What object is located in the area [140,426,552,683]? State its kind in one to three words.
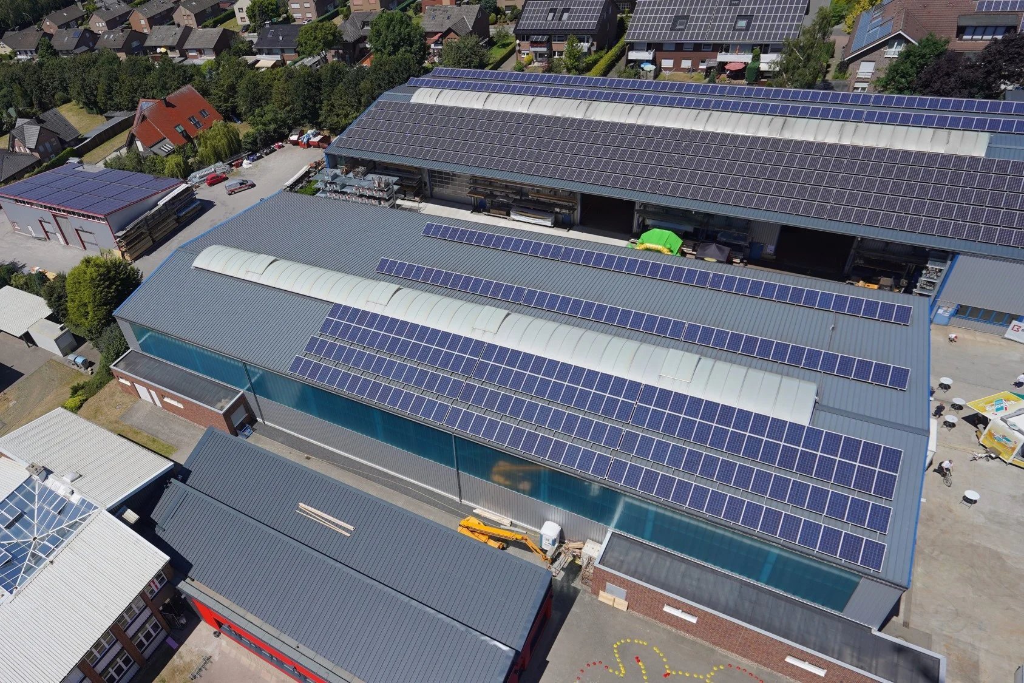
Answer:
building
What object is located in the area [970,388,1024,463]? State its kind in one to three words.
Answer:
trailer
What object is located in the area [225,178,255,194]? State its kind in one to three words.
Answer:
vehicle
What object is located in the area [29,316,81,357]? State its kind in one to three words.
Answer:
shed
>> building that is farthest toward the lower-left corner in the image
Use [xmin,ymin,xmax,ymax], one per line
[0,407,188,683]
